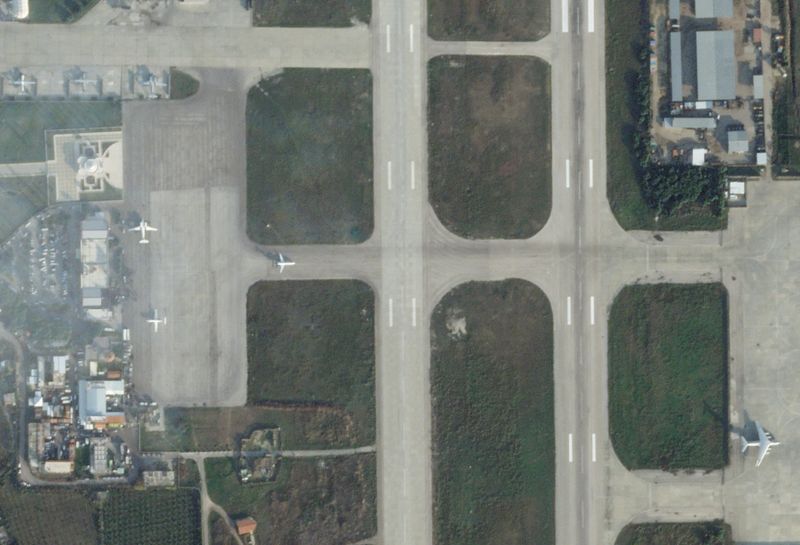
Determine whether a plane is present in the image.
Yes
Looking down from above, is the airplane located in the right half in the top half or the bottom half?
bottom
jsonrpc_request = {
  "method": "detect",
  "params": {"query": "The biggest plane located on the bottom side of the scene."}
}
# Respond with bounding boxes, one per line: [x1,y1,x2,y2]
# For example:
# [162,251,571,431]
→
[742,421,780,466]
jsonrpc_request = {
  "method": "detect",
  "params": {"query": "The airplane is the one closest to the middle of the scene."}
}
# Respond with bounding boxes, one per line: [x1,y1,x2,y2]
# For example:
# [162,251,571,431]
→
[272,254,295,273]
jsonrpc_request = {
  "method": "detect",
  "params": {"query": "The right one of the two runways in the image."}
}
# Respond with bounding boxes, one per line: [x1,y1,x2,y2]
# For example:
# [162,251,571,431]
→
[551,0,610,545]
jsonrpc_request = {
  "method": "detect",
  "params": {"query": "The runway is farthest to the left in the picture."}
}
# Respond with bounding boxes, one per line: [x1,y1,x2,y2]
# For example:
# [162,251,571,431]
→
[372,0,431,545]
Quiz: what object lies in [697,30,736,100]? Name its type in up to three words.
building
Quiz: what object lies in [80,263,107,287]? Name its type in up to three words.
building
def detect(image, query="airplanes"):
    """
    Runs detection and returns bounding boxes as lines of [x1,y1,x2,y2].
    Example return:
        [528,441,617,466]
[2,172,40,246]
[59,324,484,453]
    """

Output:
[141,76,164,98]
[73,73,96,96]
[742,421,780,466]
[12,75,34,94]
[129,219,157,243]
[272,254,295,273]
[148,309,163,333]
